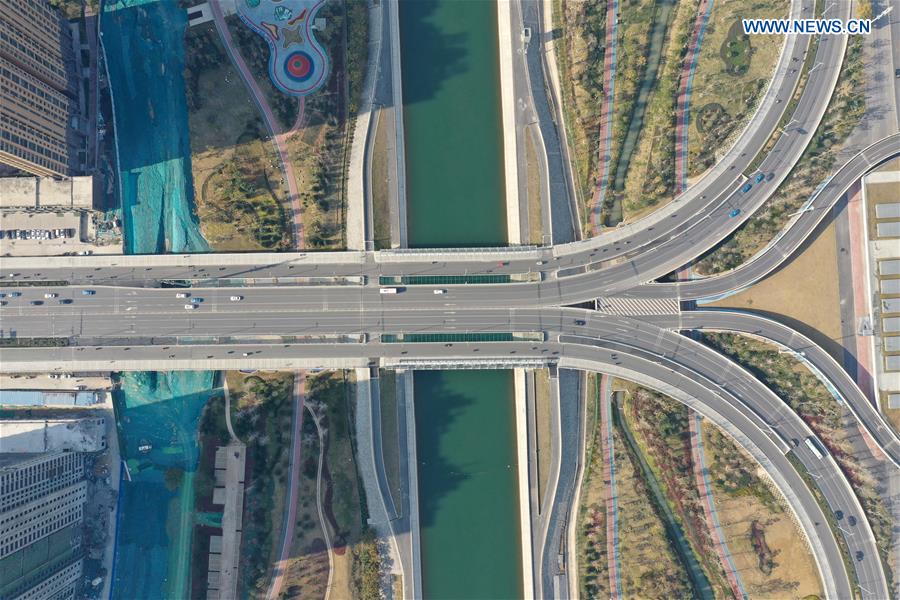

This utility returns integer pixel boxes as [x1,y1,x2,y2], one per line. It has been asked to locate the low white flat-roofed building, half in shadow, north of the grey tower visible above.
[0,417,116,452]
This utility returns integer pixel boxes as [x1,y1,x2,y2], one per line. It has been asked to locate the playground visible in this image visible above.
[236,0,329,95]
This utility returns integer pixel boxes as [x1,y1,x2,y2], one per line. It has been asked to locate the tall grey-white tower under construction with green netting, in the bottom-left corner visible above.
[0,452,86,600]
